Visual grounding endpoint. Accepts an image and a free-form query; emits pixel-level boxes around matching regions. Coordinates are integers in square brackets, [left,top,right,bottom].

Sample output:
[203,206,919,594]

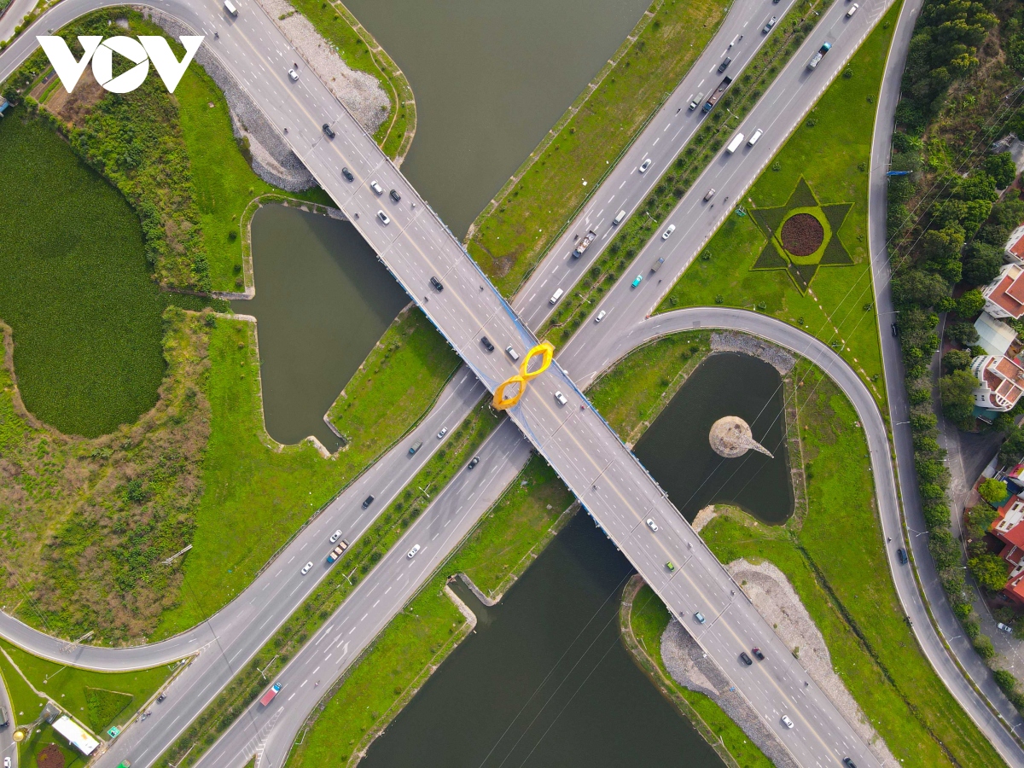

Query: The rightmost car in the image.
[995,621,1013,634]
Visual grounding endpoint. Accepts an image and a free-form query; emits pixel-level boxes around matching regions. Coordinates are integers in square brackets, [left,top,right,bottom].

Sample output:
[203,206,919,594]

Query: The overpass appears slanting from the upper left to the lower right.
[201,0,884,768]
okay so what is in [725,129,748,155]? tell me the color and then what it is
white truck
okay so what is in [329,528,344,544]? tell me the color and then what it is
white car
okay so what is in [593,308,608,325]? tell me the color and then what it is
white car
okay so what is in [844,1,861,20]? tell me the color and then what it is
white vehicle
